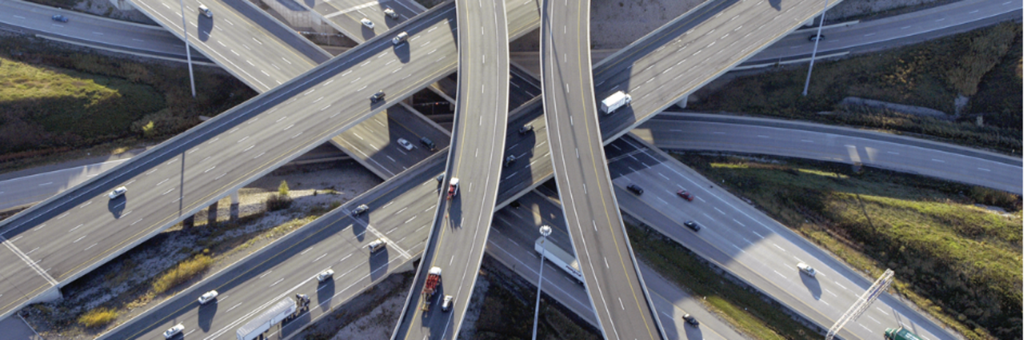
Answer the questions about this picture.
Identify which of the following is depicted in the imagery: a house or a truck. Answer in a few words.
truck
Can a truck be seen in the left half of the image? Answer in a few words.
Yes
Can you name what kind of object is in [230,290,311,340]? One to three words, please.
truck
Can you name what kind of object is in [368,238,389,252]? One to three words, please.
vehicle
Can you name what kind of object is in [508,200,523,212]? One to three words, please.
vehicle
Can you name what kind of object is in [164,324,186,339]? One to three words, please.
car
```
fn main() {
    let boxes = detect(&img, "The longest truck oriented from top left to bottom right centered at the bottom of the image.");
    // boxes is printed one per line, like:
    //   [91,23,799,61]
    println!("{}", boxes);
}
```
[533,238,584,288]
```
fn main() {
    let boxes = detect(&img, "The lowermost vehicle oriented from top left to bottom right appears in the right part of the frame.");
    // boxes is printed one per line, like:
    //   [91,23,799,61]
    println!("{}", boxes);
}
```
[680,314,700,329]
